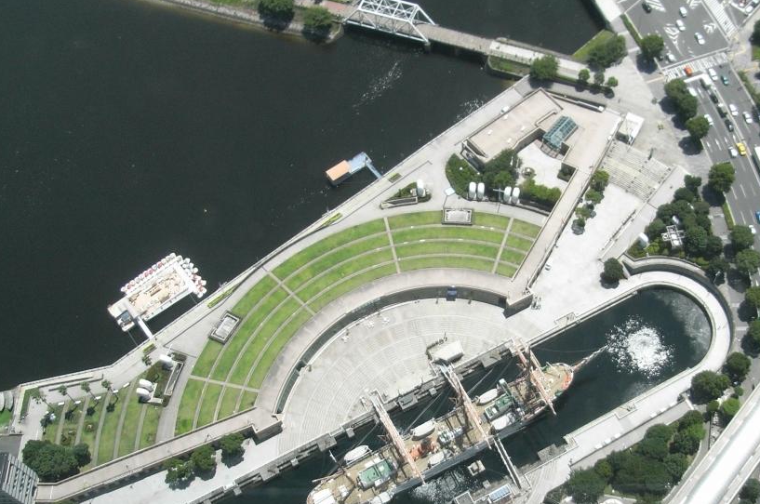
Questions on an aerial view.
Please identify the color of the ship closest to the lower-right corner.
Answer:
white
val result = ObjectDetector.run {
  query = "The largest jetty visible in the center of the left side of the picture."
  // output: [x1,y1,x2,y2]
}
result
[108,262,199,332]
